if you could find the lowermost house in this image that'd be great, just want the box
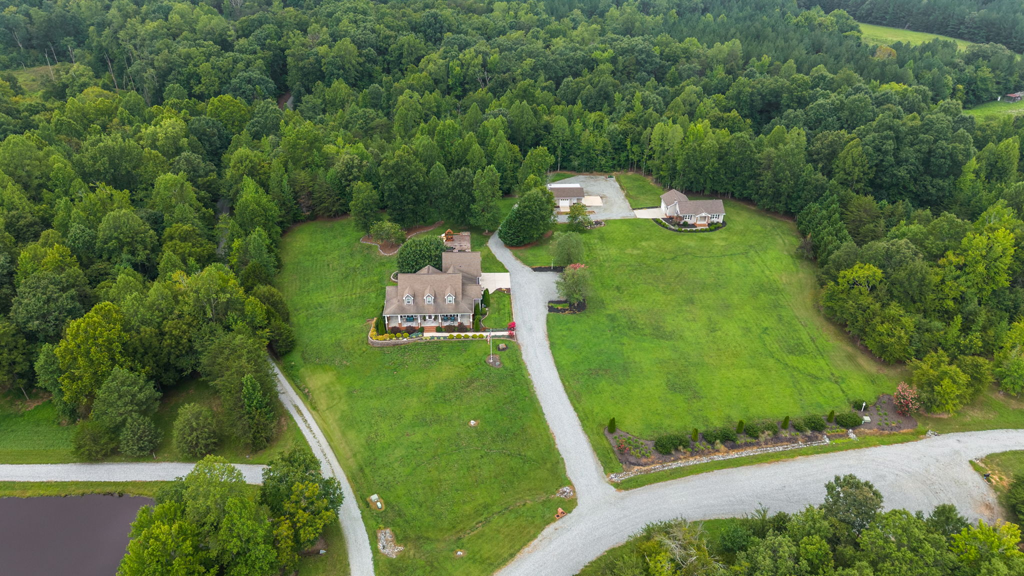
[383,251,481,333]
